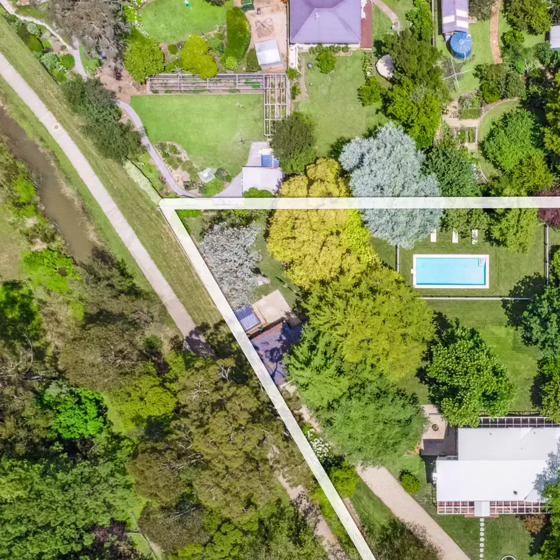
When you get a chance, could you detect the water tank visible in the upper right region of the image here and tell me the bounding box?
[448,31,472,58]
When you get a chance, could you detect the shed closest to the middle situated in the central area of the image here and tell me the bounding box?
[235,304,264,332]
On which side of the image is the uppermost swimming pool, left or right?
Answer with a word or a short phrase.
right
